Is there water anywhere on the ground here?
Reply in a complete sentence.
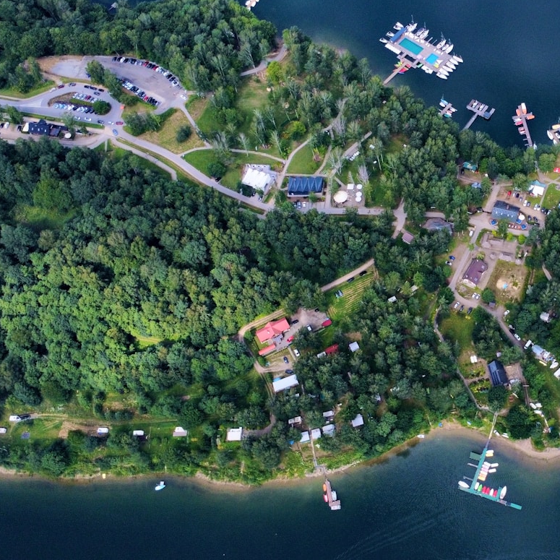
Yes, there is water in the image.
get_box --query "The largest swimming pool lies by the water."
[400,38,423,54]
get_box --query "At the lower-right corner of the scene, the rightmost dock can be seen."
[458,434,523,510]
